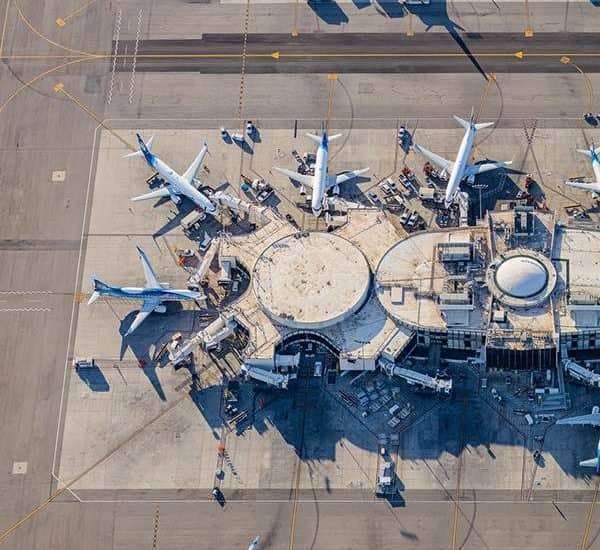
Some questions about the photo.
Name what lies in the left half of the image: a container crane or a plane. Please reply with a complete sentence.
It is a plane that can be seen in the left half of the image.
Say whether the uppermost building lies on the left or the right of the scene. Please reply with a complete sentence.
You can find the uppermost building on the right side of the picture.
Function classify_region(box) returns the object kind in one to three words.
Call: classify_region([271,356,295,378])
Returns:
jet bridge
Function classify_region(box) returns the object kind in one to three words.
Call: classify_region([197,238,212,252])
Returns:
vehicle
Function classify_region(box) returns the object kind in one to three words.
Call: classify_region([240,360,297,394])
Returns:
jet bridge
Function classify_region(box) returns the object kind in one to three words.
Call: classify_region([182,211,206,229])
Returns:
vehicle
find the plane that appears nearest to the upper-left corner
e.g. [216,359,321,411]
[129,141,216,213]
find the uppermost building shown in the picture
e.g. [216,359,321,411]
[217,205,600,374]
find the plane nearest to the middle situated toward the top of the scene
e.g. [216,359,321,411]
[273,126,370,217]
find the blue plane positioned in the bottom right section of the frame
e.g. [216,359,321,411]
[553,392,600,469]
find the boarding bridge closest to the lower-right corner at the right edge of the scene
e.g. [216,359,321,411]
[558,356,600,393]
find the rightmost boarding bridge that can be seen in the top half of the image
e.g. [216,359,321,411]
[451,185,470,228]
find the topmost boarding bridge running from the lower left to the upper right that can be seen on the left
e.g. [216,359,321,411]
[186,234,225,287]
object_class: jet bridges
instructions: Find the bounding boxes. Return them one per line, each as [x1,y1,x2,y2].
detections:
[240,360,297,394]
[451,185,470,228]
[186,234,225,287]
[558,356,600,393]
[211,193,267,223]
[375,358,458,397]
[164,300,234,367]
[324,196,368,218]
[271,356,295,378]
